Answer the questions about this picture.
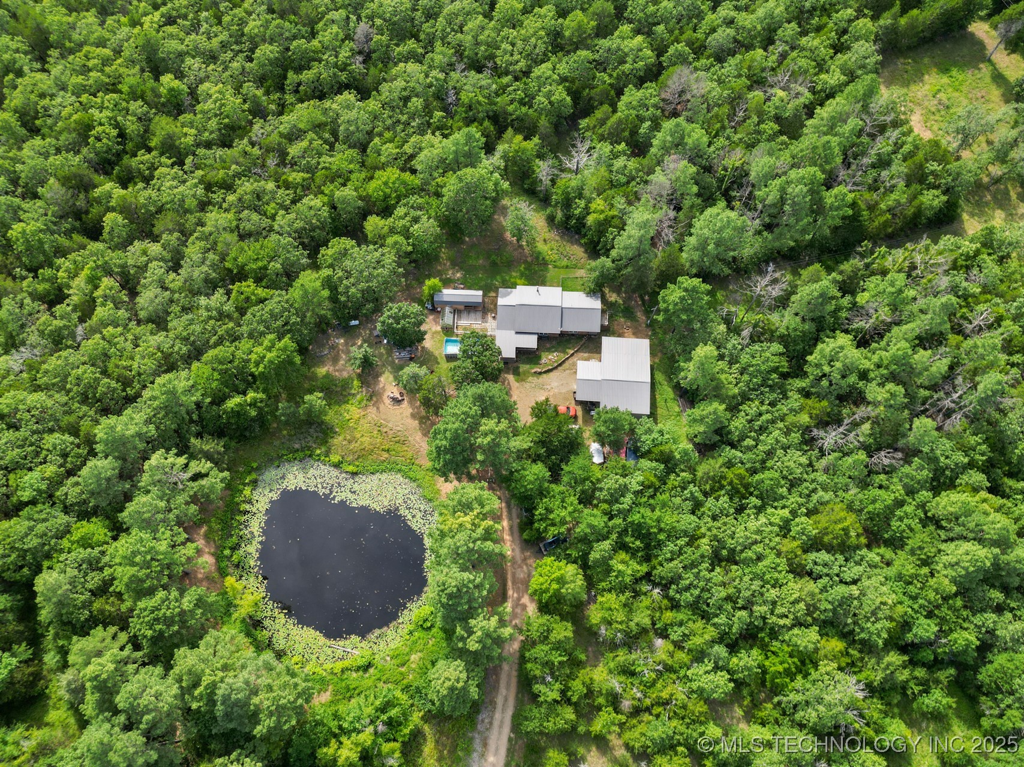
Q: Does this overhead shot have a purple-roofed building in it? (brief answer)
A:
No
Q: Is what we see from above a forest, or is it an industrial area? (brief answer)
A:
forest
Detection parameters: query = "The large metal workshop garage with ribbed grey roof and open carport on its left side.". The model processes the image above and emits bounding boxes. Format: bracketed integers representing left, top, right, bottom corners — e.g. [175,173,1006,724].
[576,338,651,419]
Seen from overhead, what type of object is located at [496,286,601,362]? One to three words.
house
